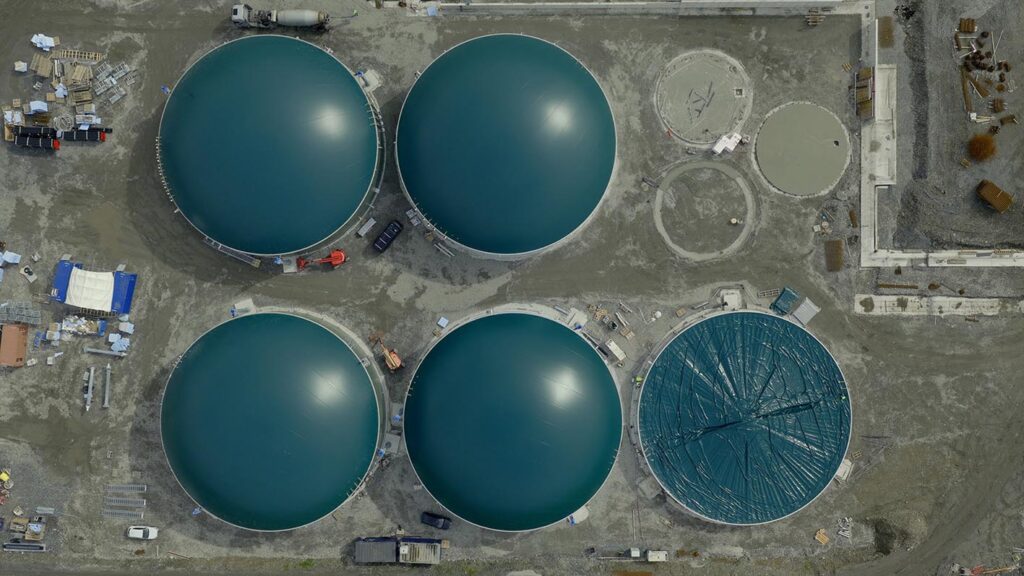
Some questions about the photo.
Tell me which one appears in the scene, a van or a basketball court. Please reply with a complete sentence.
The one in the frame is a van.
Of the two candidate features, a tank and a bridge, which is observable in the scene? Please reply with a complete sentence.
It is a tank that can be seen here.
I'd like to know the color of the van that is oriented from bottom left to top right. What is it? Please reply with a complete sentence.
The van that is oriented from bottom left to top right is black.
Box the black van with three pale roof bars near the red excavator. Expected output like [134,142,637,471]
[373,218,406,252]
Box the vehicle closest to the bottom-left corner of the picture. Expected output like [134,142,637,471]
[128,524,159,541]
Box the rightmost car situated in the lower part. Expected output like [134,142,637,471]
[420,511,452,530]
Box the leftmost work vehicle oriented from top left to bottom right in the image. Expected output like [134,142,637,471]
[368,325,410,374]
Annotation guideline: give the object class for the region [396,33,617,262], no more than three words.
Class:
storage tank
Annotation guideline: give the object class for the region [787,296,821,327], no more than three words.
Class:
shed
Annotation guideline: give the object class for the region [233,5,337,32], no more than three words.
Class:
truck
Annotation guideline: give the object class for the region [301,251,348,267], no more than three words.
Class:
work vehicle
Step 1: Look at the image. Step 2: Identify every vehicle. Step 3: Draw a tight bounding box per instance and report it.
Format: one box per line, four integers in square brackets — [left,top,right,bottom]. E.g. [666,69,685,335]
[128,524,159,541]
[368,325,410,374]
[233,5,337,32]
[373,218,406,252]
[420,511,452,530]
[301,251,348,267]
